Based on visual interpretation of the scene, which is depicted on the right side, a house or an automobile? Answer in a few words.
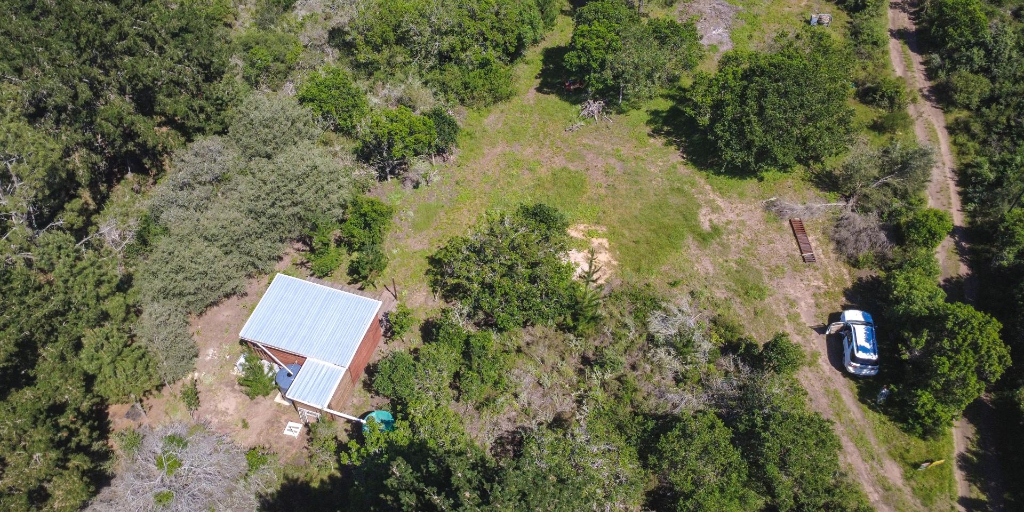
automobile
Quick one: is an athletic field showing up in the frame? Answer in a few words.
No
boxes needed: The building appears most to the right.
[239,270,381,424]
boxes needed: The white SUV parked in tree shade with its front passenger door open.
[826,310,880,379]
